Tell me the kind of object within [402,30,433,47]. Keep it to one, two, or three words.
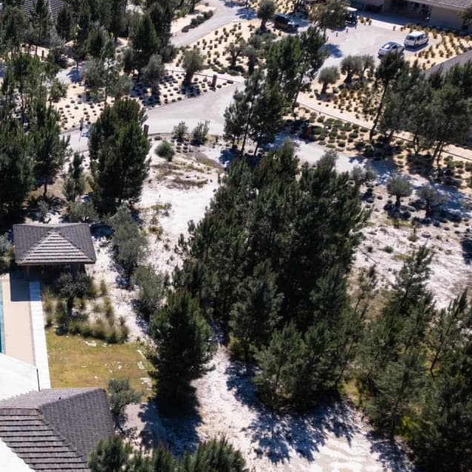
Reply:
vehicle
